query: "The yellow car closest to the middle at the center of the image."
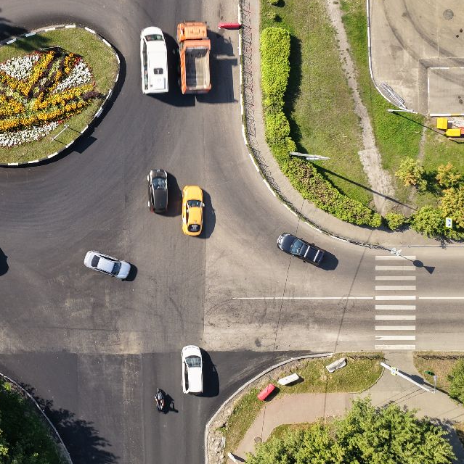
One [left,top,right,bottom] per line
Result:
[179,185,206,235]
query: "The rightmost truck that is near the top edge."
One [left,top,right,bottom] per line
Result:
[176,20,212,95]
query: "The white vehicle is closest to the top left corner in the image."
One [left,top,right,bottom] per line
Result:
[138,29,169,93]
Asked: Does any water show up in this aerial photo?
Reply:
No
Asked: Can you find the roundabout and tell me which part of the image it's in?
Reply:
top left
